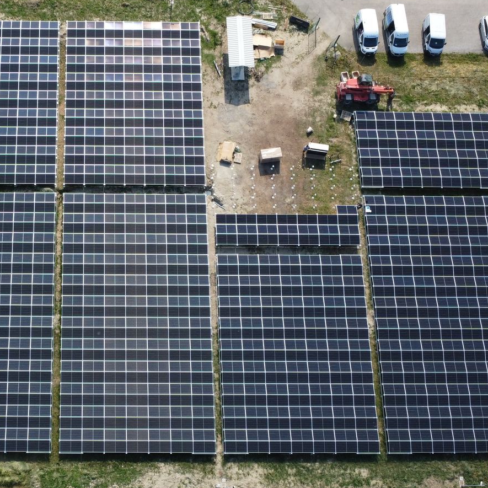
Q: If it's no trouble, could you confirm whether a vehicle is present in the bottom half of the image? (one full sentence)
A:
No, no vehicle can be made out in the bottom half of the image.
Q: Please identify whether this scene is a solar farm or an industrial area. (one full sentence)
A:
This image shows a solar farm.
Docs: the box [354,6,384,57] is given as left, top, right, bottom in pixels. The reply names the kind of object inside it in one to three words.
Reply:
van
